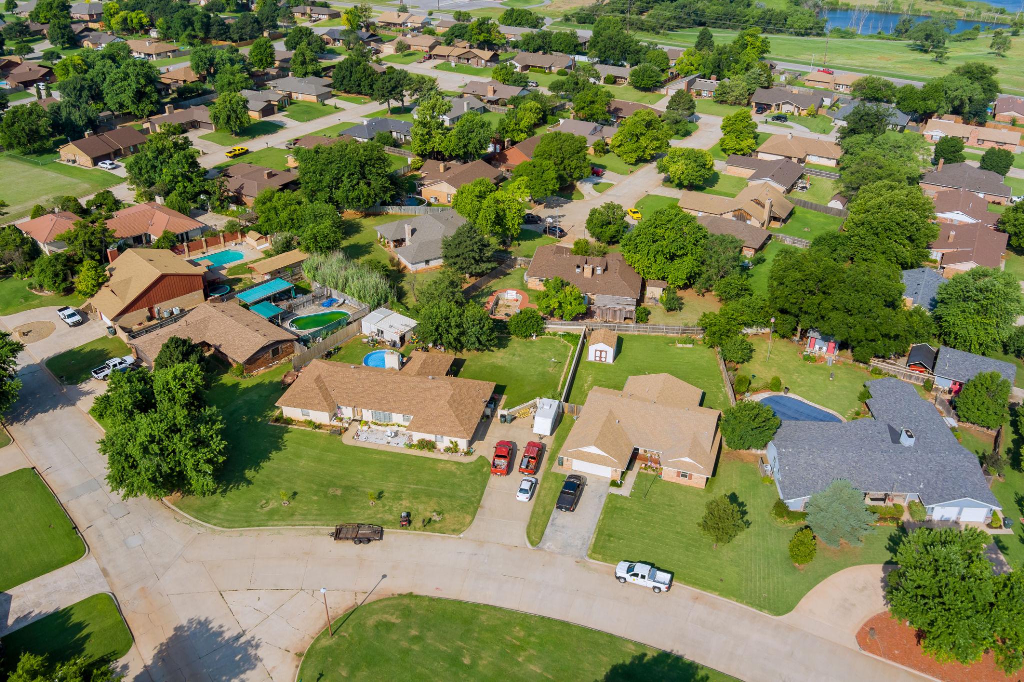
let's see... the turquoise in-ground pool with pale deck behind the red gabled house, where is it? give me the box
[193,243,272,281]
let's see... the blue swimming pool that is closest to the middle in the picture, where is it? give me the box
[364,351,387,365]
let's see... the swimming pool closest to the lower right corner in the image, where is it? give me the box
[741,391,847,421]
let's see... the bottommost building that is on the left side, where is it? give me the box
[275,344,498,451]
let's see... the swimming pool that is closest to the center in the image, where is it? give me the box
[479,290,541,326]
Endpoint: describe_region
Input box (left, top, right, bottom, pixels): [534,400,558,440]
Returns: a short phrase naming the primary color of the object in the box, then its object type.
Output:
white trailer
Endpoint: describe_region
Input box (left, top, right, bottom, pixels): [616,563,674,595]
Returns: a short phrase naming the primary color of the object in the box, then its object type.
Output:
white truck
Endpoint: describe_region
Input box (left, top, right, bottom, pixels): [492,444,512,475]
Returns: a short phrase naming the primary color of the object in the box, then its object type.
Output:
red vehicle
